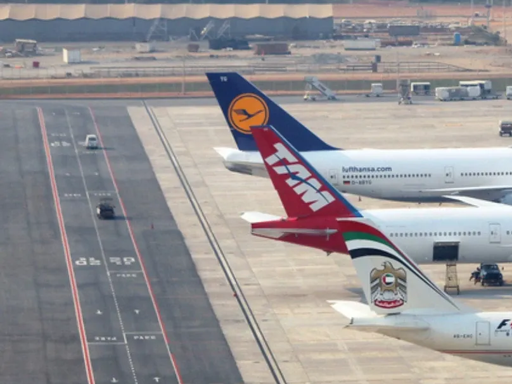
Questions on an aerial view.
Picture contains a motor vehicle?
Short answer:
Yes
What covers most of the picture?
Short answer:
paved ground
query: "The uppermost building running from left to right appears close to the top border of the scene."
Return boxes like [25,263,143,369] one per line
[0,0,334,45]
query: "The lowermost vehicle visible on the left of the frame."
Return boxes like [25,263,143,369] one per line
[96,199,116,218]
